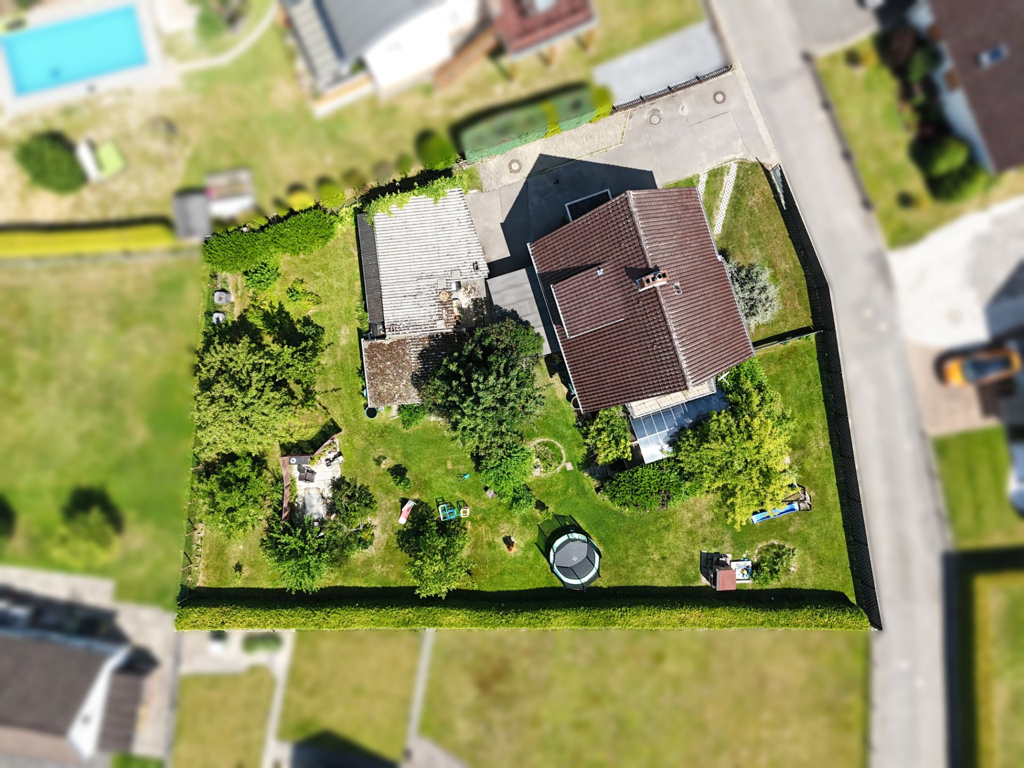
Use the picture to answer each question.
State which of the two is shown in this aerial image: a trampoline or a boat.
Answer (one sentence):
It is a trampoline that can be seen here.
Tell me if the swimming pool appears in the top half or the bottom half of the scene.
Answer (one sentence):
The top half of the photo is where the swimming pool is.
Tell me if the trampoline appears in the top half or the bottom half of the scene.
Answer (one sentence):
It is in the bottom half that the trampoline appears.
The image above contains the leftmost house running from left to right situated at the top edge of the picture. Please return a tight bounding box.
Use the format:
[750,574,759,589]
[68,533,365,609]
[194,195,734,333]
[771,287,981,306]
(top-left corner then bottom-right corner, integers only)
[320,0,537,92]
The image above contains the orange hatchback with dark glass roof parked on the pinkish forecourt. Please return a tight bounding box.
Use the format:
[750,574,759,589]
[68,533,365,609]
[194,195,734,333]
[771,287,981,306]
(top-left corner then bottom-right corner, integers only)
[940,346,1024,387]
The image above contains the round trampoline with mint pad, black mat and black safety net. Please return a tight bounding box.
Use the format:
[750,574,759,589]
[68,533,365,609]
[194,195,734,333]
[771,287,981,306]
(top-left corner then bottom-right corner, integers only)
[549,523,604,593]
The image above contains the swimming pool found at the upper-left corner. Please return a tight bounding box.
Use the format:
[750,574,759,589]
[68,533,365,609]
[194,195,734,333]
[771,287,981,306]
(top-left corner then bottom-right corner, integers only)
[0,0,153,103]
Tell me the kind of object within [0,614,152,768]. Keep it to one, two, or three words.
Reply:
house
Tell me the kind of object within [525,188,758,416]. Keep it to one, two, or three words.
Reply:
house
